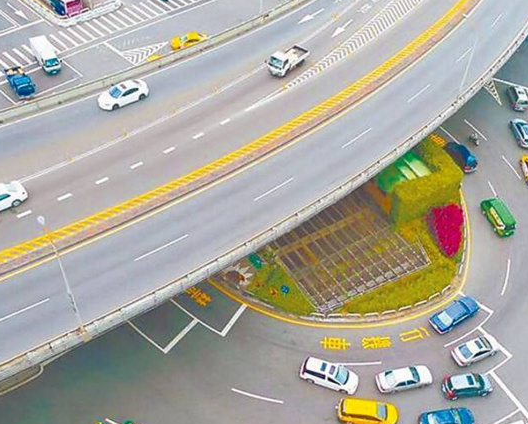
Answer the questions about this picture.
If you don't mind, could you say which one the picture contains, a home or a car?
car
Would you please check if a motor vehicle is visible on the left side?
Yes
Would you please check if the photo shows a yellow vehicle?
Yes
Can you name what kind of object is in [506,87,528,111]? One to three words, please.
car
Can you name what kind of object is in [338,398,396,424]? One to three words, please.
vehicle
